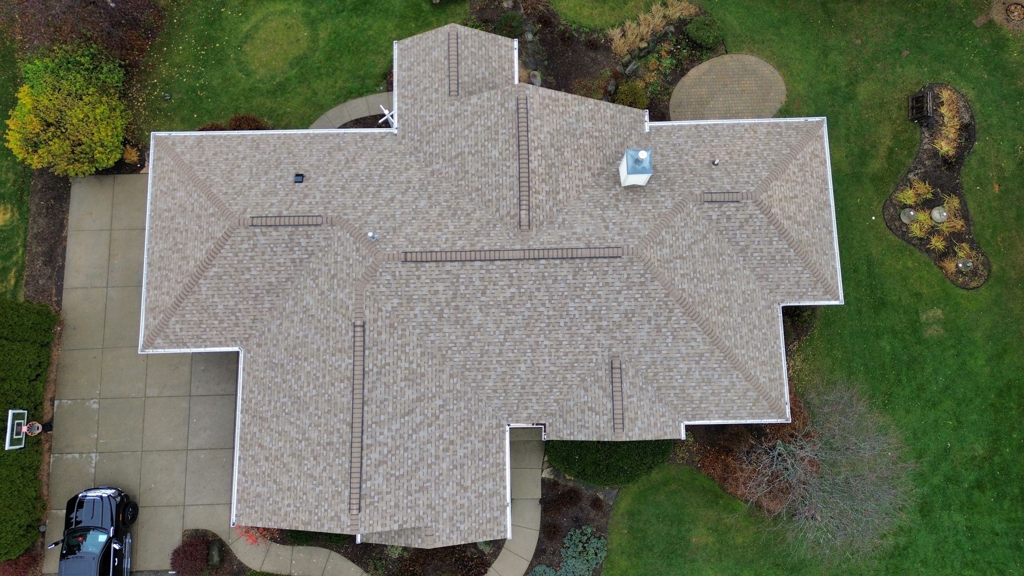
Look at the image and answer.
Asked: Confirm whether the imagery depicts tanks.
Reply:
No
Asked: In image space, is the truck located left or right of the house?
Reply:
on its left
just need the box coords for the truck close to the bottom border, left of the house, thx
[45,485,137,576]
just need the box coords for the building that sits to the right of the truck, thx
[138,23,844,548]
